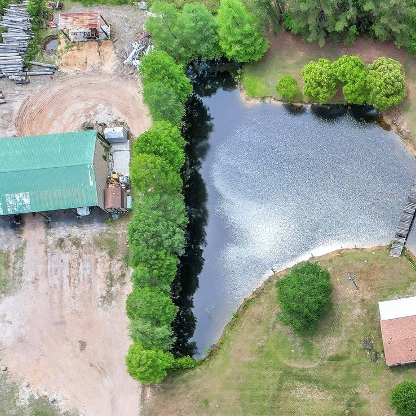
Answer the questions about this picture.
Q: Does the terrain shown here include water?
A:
Yes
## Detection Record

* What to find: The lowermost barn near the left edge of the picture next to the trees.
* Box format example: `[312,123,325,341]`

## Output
[0,131,107,224]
